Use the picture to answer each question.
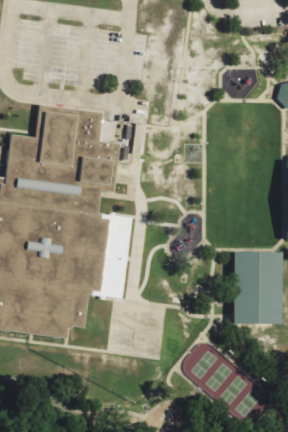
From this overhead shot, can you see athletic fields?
Yes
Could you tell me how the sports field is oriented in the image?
vertically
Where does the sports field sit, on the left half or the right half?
right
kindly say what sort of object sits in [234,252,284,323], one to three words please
building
